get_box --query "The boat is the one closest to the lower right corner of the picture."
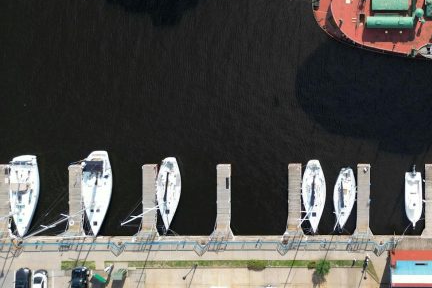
[404,168,424,232]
